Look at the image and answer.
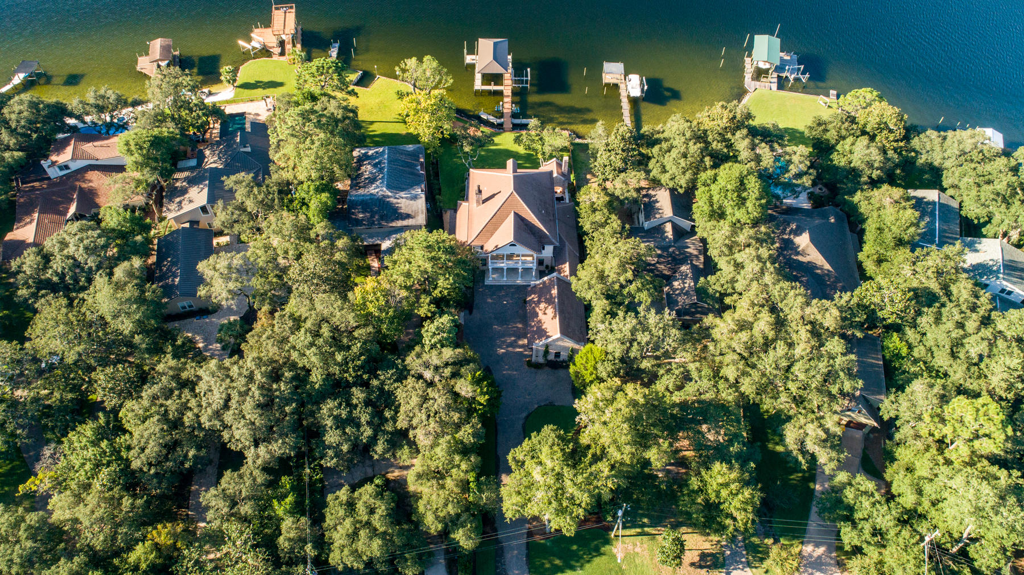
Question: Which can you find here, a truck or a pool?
pool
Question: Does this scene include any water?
Yes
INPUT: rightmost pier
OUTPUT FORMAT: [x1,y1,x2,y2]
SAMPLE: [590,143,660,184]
[603,51,632,129]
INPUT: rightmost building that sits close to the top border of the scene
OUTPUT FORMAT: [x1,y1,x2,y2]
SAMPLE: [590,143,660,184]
[743,20,799,92]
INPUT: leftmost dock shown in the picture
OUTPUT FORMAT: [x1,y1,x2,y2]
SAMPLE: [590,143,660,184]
[238,0,303,64]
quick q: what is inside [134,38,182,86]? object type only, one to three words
building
